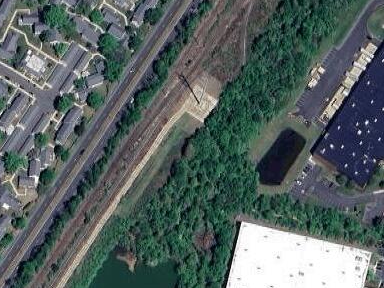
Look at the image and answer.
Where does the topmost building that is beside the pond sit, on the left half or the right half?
right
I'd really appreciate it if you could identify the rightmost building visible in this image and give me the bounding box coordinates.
[313,43,384,192]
